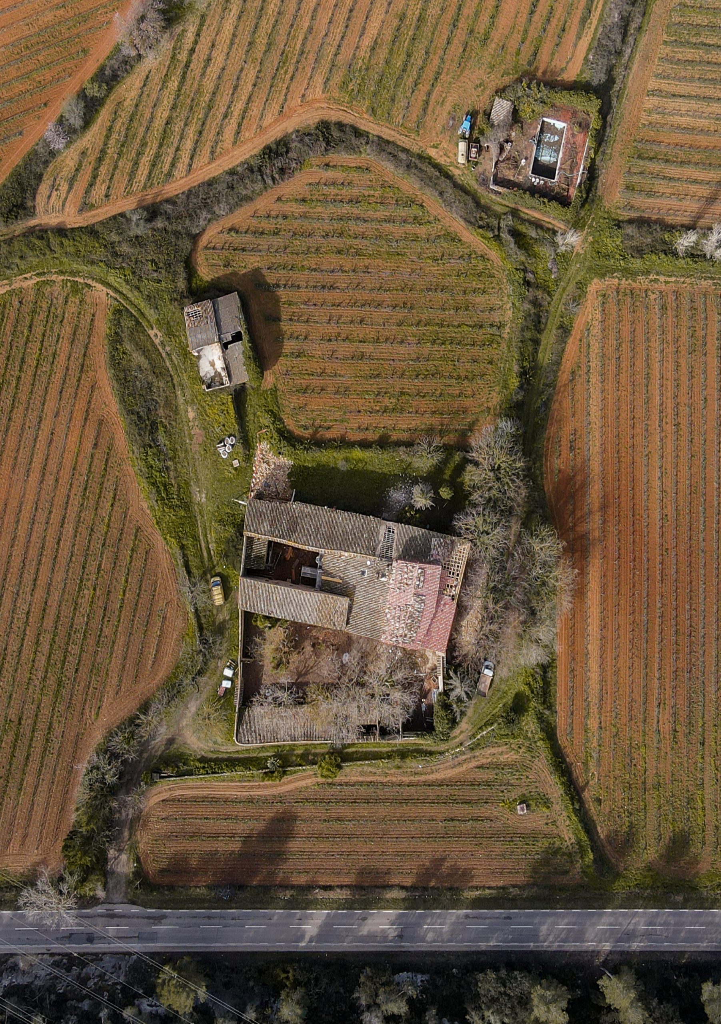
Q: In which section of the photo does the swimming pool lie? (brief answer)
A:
top right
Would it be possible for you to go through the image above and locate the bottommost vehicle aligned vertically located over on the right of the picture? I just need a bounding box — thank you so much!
[476,660,496,700]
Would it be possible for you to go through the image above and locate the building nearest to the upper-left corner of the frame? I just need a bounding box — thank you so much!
[183,292,253,393]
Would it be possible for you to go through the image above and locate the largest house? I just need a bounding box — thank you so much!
[232,489,471,653]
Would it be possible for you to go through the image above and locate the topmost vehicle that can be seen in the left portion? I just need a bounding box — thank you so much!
[209,576,224,607]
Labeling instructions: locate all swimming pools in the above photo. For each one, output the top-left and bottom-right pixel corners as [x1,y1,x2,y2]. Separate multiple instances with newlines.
[531,117,567,181]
